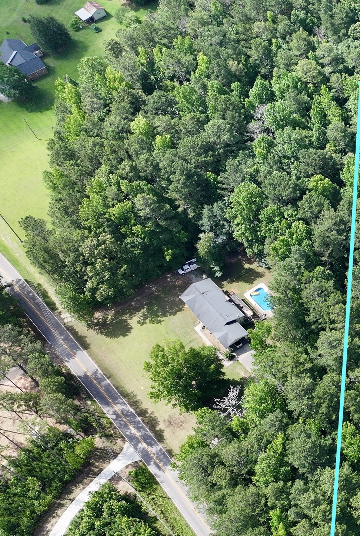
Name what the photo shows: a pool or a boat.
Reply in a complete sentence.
The one in the frame is a pool.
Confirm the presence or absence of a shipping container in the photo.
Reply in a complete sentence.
No, the photo shows no shipping container.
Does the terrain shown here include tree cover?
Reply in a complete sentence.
Yes, the picture does contain tree cover.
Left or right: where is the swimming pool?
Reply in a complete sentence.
It is on the right.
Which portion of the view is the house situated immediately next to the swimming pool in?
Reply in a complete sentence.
The house situated immediately next to the swimming pool is located in the center region of the scene.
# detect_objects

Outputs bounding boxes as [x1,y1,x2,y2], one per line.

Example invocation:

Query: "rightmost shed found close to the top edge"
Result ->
[74,0,108,27]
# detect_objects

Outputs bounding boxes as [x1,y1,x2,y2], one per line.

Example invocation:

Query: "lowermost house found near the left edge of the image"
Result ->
[0,37,49,79]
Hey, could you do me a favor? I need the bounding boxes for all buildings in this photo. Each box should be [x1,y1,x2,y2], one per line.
[74,0,108,27]
[0,37,49,79]
[178,279,257,353]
